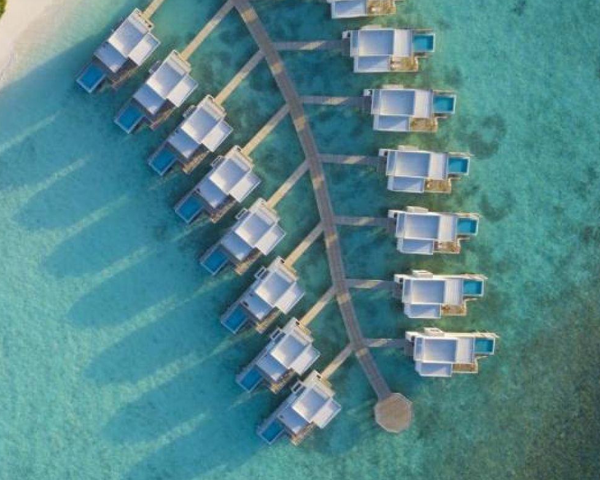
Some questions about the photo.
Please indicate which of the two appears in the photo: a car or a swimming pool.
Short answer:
swimming pool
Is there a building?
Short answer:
Yes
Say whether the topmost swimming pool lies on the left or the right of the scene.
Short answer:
right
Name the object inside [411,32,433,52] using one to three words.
swimming pool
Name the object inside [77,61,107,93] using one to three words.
swimming pool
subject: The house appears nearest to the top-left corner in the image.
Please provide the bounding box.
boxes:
[73,7,161,90]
